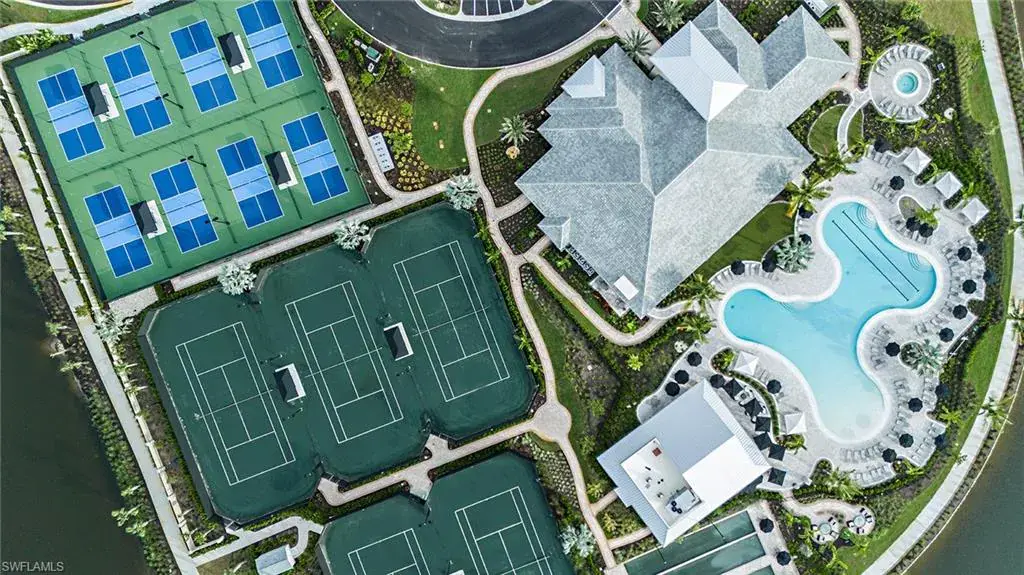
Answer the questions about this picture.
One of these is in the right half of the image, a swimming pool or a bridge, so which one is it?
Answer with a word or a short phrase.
swimming pool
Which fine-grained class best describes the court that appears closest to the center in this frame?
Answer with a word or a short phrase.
tennis court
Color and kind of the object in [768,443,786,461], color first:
black umbrella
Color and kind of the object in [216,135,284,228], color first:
blue sports court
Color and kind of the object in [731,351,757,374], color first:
white tent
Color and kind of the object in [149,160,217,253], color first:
blue sports court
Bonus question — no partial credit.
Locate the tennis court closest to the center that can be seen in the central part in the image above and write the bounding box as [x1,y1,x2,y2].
[391,238,514,407]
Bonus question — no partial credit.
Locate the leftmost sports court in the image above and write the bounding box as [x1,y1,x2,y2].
[37,67,105,160]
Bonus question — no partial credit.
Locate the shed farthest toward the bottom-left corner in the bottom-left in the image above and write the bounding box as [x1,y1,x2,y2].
[255,538,300,575]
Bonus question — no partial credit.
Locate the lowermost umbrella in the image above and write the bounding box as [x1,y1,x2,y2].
[775,550,790,565]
